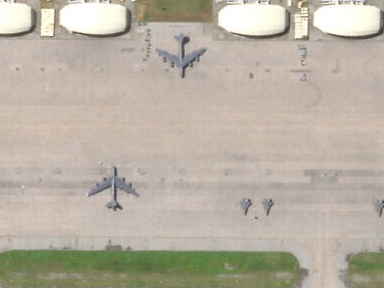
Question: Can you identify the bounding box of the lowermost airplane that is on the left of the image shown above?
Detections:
[88,167,139,210]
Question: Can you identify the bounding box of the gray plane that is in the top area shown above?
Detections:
[156,33,207,78]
